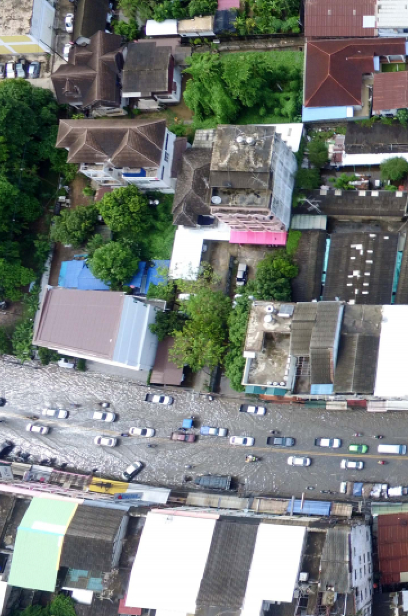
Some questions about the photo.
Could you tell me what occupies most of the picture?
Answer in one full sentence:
The scene is dominated by buildings.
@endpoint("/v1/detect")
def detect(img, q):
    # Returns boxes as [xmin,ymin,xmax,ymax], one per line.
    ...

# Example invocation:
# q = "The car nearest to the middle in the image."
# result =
[236,262,249,286]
